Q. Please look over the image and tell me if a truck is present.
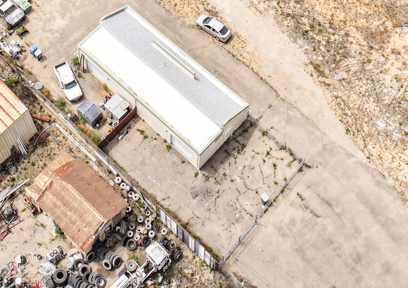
Yes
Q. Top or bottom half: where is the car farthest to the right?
top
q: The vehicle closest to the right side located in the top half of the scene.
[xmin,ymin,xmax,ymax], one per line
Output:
[193,15,231,44]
